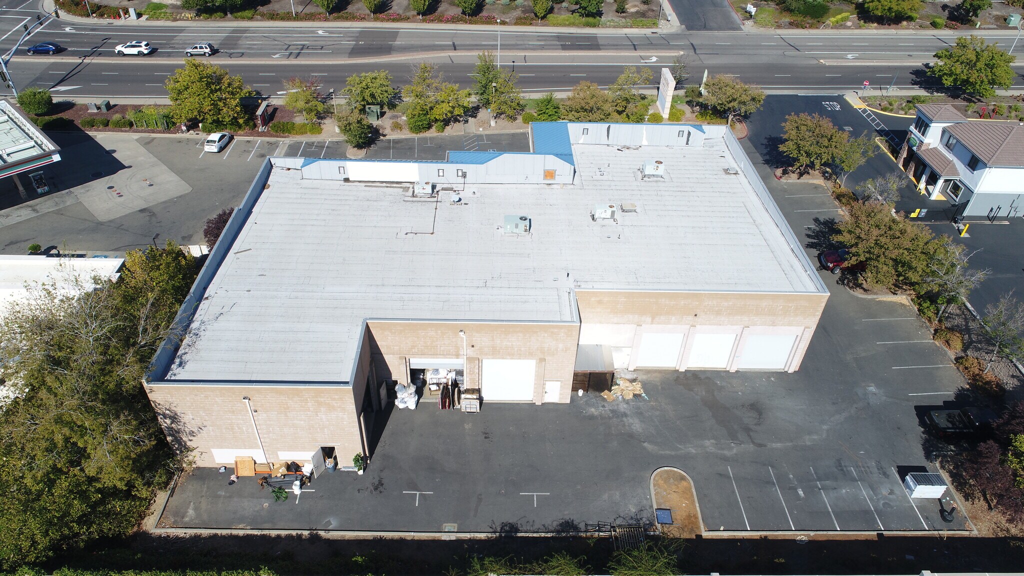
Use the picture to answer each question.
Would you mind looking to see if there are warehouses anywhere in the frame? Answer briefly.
Yes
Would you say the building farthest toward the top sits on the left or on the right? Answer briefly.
right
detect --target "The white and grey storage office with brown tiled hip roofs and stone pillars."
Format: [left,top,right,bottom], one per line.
[892,102,1024,217]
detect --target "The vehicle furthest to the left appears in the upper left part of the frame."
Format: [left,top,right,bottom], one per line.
[26,38,66,53]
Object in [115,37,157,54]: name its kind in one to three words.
car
